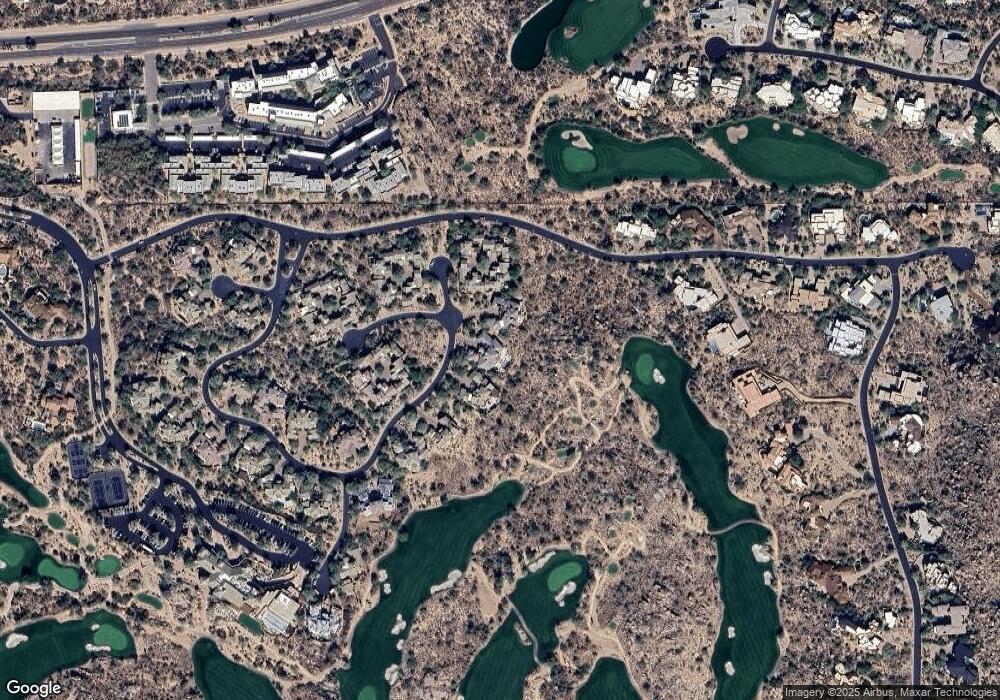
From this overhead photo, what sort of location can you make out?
residential area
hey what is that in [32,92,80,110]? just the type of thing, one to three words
shed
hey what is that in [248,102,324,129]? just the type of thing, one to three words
building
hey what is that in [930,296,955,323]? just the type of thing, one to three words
house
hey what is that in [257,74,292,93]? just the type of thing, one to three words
building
